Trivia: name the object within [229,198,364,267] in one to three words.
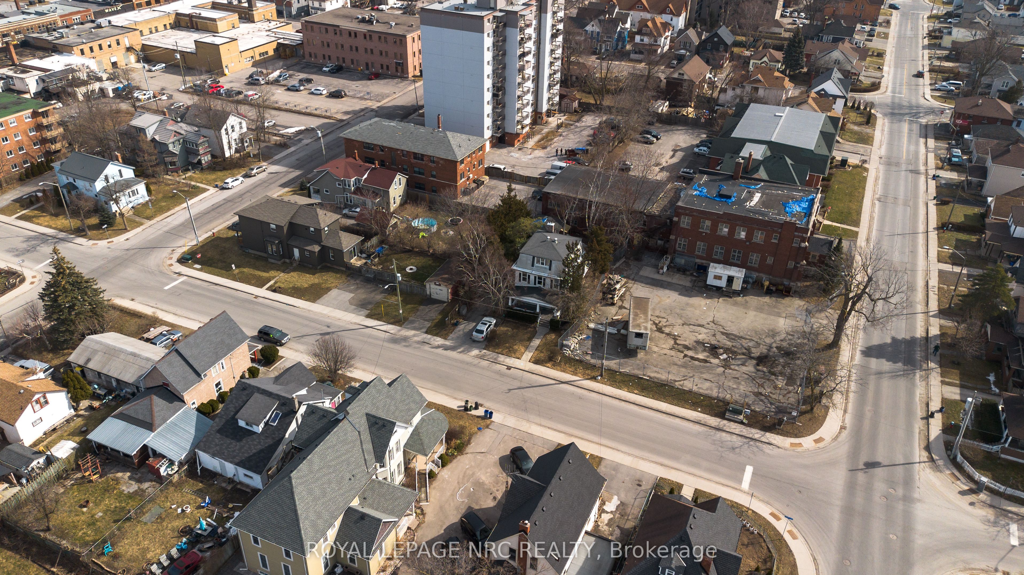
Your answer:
house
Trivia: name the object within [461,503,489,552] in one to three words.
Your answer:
vehicle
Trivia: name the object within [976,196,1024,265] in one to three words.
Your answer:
house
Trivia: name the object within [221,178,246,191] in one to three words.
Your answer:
vehicle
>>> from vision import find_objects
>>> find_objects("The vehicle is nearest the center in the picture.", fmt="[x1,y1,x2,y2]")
[470,319,497,342]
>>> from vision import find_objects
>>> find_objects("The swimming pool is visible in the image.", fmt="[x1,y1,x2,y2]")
[412,217,437,235]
